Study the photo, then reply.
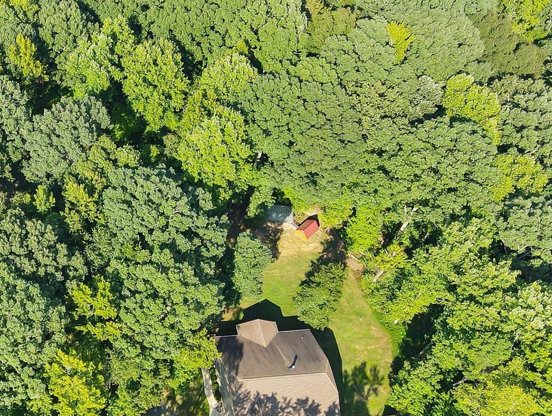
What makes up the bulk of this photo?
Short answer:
trees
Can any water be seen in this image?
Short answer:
No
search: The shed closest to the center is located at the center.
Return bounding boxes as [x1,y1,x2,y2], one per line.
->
[264,206,295,228]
